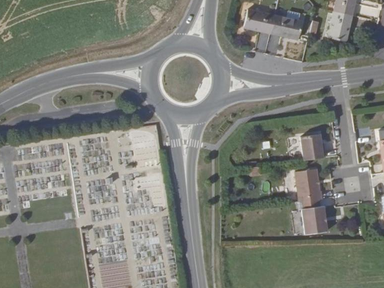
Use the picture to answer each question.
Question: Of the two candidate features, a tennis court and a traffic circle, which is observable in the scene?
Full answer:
The image shows a traffic circle.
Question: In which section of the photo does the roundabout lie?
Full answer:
The roundabout sits in the top section of the image.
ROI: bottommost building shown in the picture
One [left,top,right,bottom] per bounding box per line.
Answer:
[302,206,329,234]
